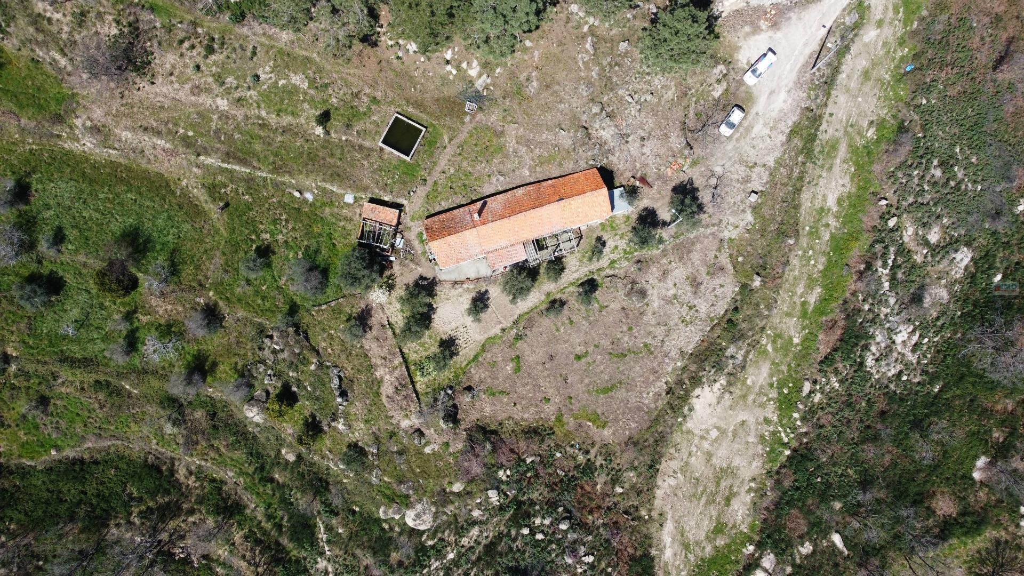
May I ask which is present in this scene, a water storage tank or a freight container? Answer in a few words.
water storage tank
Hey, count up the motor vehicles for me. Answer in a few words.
two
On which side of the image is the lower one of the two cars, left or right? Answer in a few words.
right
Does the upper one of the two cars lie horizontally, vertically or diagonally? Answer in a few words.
diagonally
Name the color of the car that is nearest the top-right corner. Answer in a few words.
white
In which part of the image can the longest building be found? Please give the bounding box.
[425,168,612,271]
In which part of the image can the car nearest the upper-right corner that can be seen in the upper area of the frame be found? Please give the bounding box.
[740,45,782,88]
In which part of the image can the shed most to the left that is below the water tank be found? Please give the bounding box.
[362,202,399,227]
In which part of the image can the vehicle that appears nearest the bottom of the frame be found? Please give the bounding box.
[716,102,747,139]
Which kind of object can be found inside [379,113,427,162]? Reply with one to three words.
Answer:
water tank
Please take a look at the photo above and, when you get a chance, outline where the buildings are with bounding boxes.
[362,202,399,227]
[425,168,612,271]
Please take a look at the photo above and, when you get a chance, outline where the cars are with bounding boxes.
[740,45,782,88]
[716,102,747,139]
